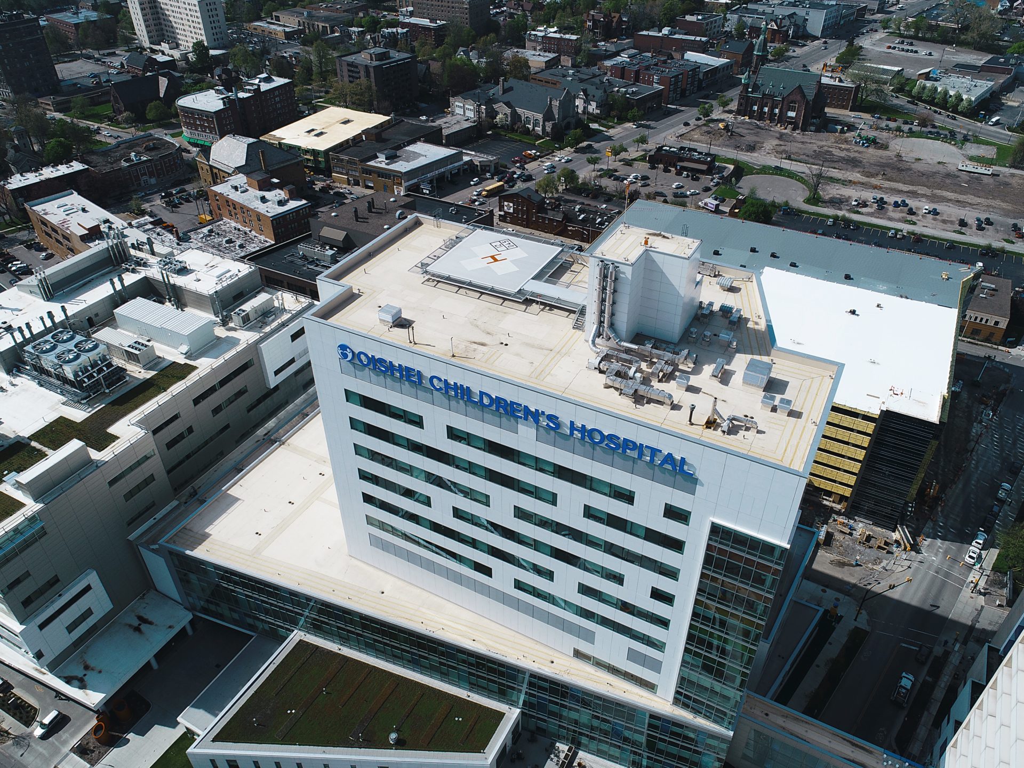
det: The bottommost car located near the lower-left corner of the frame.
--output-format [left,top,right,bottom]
[30,705,66,739]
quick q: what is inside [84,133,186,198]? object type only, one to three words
building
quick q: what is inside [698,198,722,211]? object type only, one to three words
vehicle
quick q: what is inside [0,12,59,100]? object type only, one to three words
building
